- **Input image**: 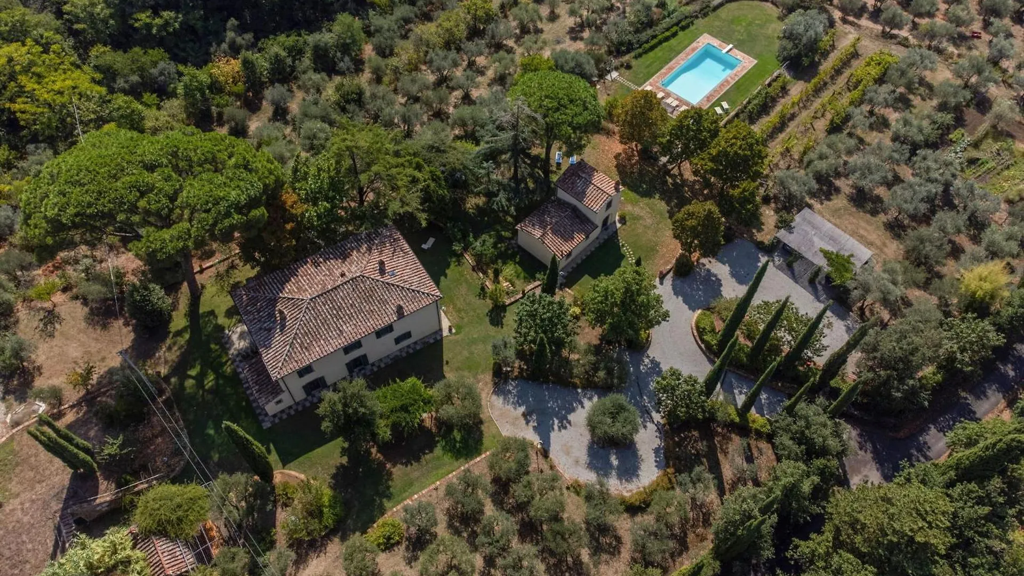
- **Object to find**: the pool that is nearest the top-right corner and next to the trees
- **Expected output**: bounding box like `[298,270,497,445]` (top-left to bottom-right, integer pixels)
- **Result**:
[638,33,759,116]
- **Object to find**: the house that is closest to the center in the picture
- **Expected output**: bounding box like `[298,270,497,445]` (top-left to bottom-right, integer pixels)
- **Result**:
[517,163,624,269]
